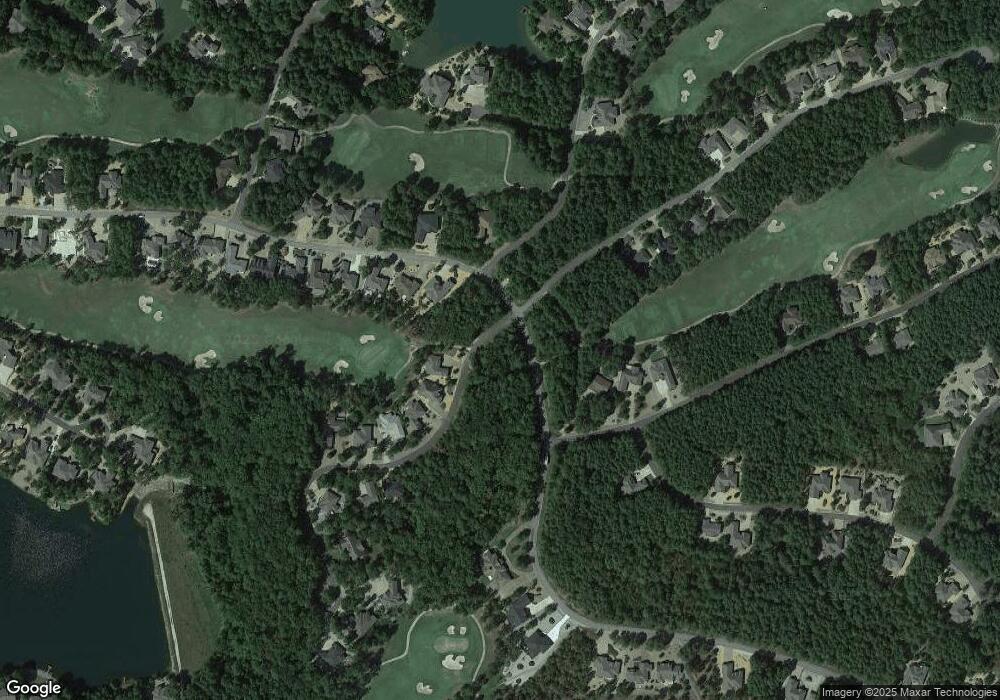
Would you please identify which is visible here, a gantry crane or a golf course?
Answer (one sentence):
I can see a golf course in this picture.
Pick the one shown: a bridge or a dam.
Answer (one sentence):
The one in the frame is a dam.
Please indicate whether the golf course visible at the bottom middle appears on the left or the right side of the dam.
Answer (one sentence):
From the viewer's perspective, the golf course visible at the bottom middle falls to the right of the dam.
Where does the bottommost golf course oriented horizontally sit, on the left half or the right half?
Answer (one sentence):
You can find the bottommost golf course oriented horizontally on the left side of the picture.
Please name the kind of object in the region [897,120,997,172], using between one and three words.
pond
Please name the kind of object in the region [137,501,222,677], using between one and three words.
dam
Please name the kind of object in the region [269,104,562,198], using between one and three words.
golf course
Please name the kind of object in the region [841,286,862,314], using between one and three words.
house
